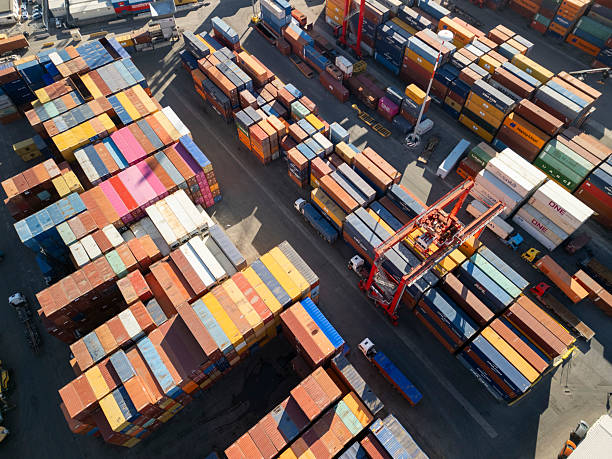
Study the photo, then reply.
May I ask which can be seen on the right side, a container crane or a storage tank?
container crane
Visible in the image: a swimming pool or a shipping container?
shipping container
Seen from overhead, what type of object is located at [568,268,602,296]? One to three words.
shipping container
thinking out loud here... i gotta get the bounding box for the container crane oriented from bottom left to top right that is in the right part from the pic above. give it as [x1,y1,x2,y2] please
[356,174,510,325]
